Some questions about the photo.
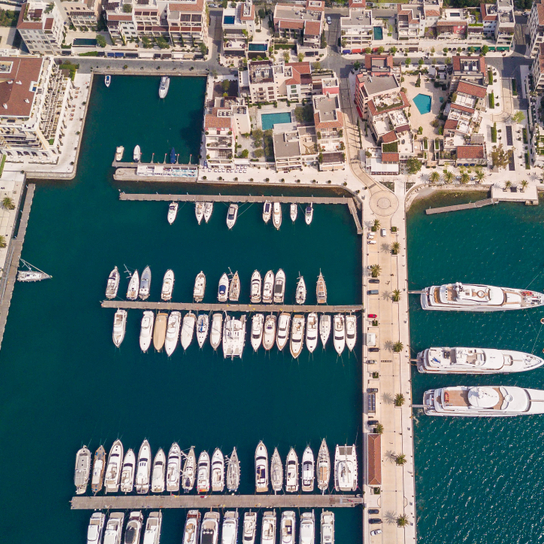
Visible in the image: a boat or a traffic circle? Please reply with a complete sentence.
It is a boat that can be seen here.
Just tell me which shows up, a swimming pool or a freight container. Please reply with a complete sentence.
The one in the frame is a swimming pool.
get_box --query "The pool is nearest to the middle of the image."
[261,109,293,131]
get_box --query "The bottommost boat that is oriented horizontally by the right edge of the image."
[410,386,544,416]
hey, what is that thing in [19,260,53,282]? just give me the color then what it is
white boat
